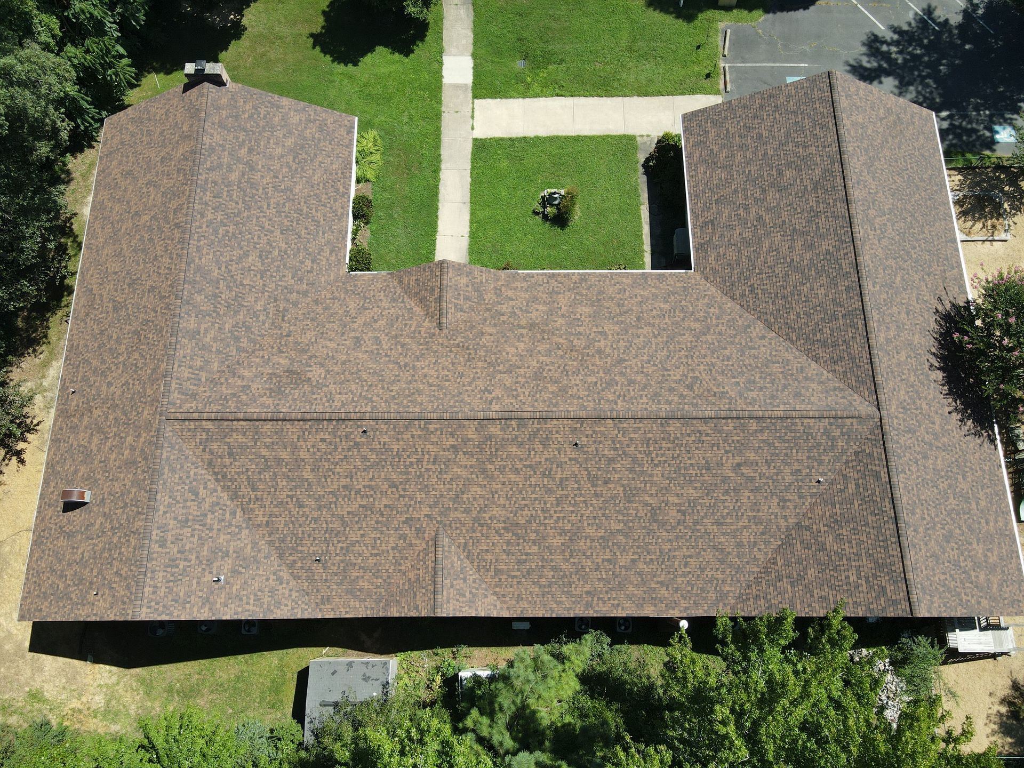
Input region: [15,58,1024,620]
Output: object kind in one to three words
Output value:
building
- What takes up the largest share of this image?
buildings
